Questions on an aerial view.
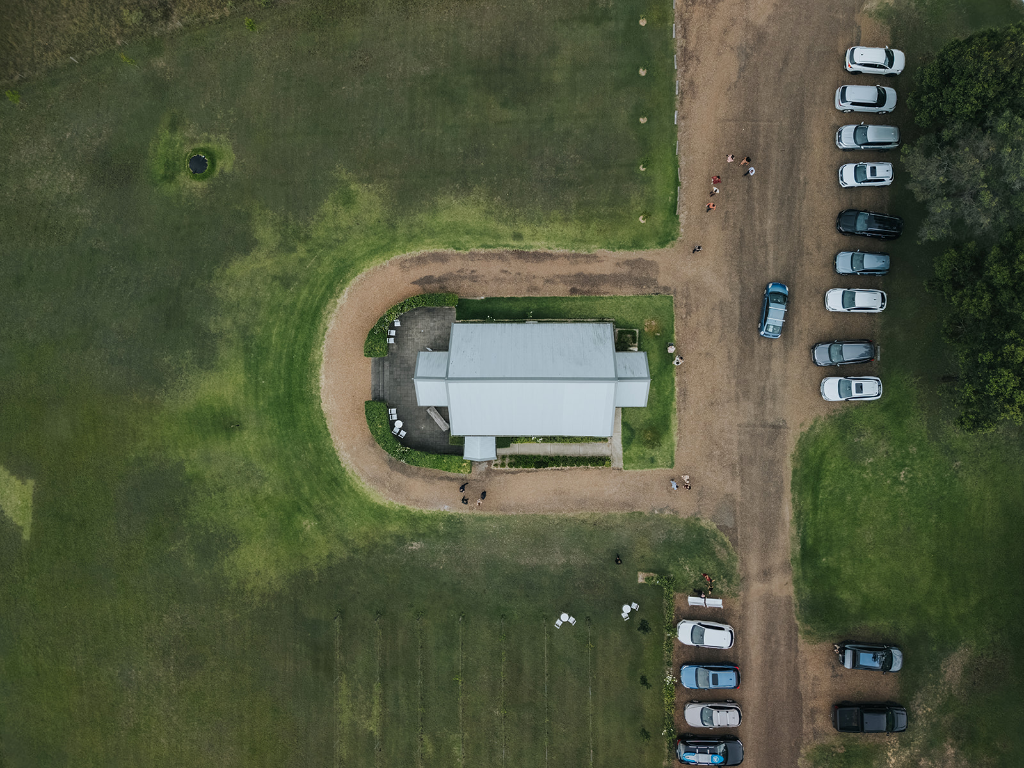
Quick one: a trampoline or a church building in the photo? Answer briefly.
church building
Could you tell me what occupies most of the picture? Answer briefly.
grass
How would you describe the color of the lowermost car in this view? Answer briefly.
black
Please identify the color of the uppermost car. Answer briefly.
white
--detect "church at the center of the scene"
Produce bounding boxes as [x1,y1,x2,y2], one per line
[411,320,652,461]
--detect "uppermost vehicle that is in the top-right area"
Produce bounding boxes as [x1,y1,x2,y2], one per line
[844,45,905,79]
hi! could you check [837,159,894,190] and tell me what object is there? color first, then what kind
white car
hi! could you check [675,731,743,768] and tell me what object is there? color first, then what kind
black car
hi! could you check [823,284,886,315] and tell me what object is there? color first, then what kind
white car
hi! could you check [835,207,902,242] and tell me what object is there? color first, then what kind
black car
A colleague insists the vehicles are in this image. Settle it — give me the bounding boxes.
[835,207,902,242]
[841,640,903,675]
[675,731,743,768]
[835,84,896,117]
[810,339,875,369]
[682,697,743,730]
[676,617,735,649]
[757,285,791,338]
[678,660,741,693]
[844,45,905,79]
[823,284,886,315]
[819,373,882,404]
[832,700,908,737]
[837,159,894,190]
[834,121,900,155]
[831,247,890,277]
